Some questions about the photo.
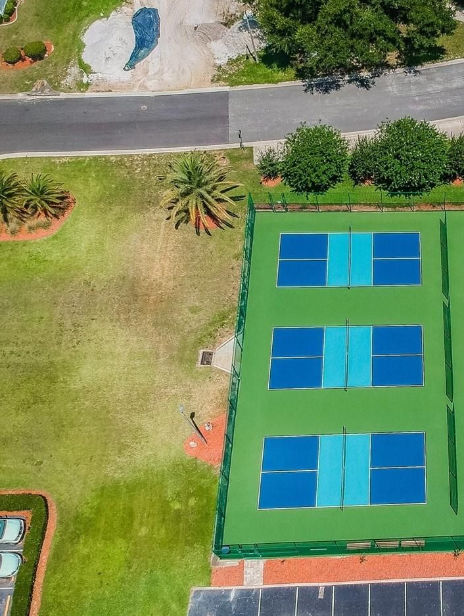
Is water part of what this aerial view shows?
No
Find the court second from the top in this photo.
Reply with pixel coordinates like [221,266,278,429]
[268,317,424,392]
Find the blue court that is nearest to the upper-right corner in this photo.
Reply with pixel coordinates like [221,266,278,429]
[276,225,421,290]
